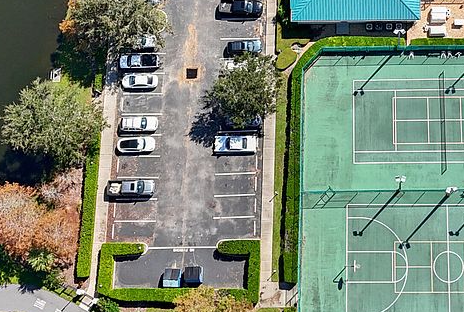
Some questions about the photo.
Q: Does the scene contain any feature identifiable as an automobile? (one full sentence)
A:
Yes, this view includes an automobile.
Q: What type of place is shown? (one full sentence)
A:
It's a sports ground.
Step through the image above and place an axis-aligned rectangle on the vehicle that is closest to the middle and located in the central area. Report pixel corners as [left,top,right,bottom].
[214,134,260,153]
